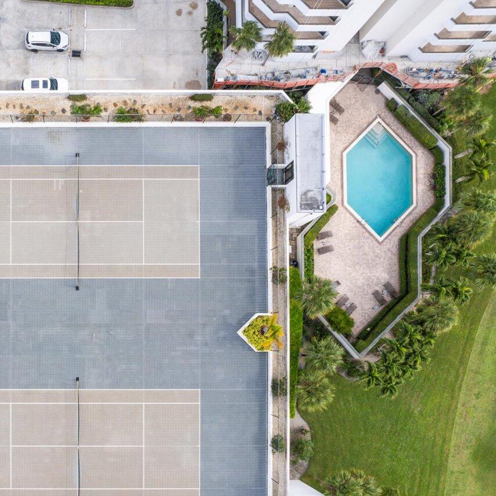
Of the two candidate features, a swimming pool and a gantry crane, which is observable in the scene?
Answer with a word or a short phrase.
swimming pool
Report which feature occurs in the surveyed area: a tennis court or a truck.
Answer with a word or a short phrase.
tennis court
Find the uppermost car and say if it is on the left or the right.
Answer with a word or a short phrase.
left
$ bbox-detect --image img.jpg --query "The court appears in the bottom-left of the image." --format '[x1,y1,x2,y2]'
[0,390,199,496]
